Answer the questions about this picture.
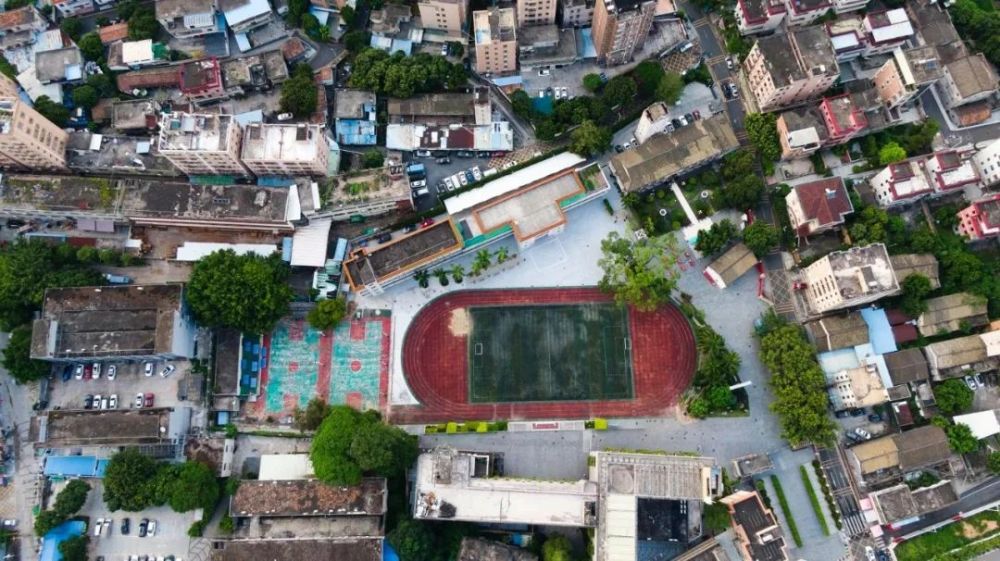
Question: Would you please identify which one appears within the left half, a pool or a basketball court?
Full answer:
What appears within the left half is a basketball court.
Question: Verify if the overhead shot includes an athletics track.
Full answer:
Yes, the photo shows an athletics track.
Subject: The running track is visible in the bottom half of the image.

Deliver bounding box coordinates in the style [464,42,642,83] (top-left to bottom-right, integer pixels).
[390,287,699,420]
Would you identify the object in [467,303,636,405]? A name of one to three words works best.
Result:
sports field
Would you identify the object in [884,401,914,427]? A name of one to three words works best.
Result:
house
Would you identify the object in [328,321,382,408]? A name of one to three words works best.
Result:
basketball court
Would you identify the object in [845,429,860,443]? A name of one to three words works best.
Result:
vehicle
